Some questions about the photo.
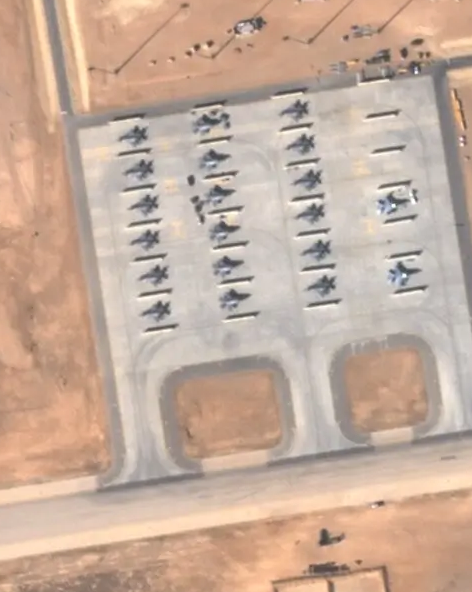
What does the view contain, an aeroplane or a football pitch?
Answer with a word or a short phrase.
aeroplane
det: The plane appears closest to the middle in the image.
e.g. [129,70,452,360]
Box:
[221,292,247,310]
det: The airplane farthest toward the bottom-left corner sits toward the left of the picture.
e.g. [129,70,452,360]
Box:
[141,303,167,322]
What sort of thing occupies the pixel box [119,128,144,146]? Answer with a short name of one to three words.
airplane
